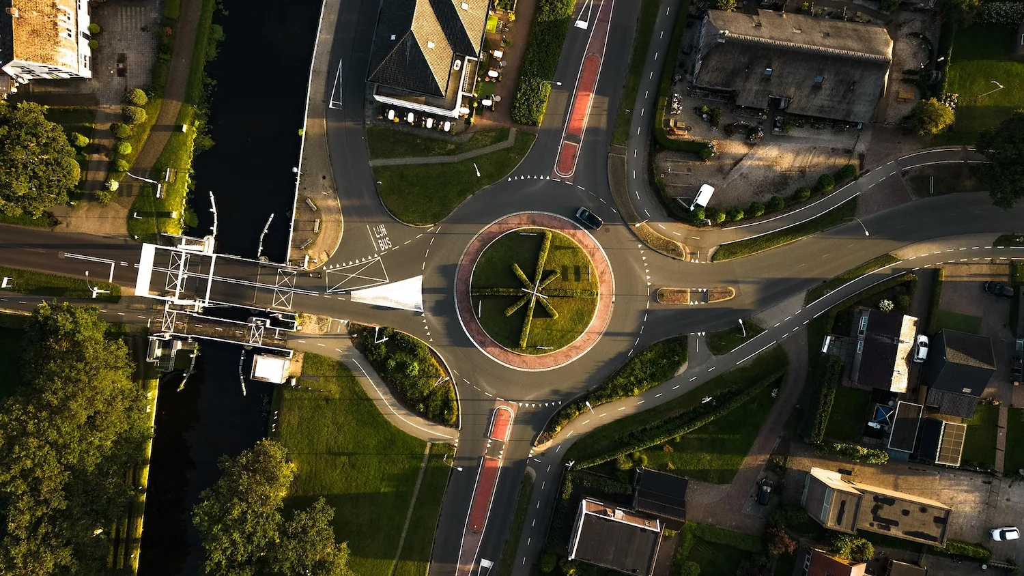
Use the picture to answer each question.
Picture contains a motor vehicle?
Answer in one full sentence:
Yes, the image includes a motor vehicle.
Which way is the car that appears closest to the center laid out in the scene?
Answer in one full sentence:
The car that appears closest to the center has been laid out on a diagonal relative to the frame.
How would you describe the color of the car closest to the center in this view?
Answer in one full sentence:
From above, the car closest to the center appears black.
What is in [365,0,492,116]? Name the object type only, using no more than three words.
building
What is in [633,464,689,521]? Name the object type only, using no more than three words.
building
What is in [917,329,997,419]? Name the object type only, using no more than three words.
house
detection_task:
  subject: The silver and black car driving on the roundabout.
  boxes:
[576,206,604,230]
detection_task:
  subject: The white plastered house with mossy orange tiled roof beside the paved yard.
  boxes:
[0,0,90,80]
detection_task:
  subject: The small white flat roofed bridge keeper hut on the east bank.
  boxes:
[250,353,295,384]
